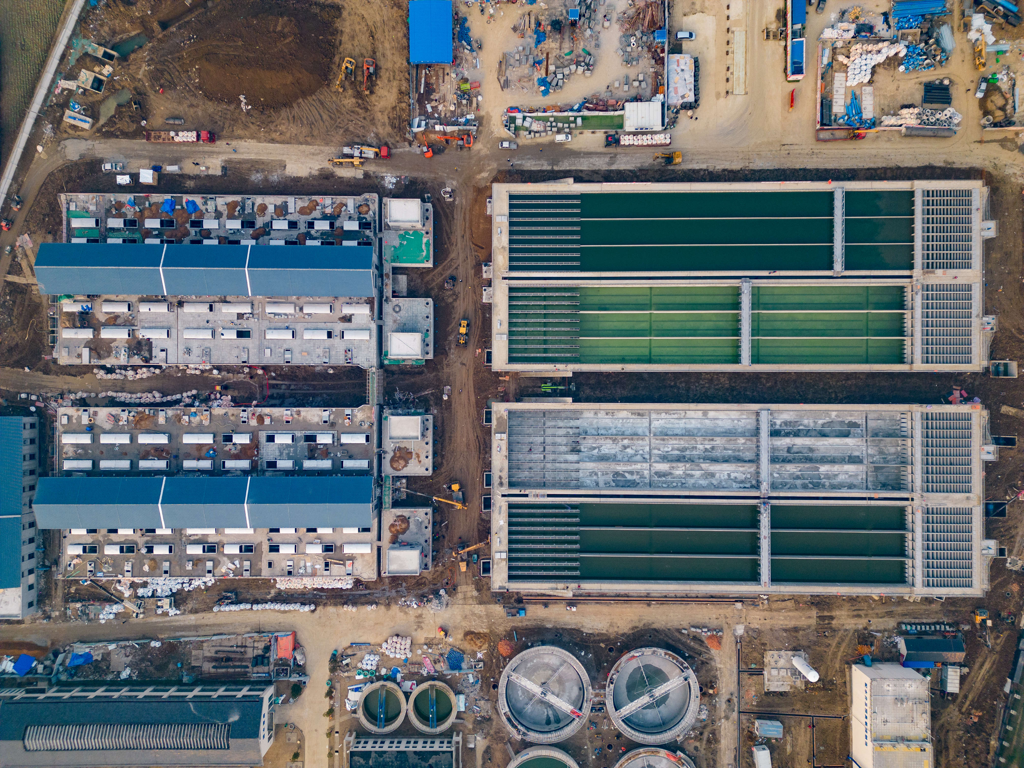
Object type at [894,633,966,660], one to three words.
shed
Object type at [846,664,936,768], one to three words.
building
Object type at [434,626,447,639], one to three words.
vehicle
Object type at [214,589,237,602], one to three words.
vehicle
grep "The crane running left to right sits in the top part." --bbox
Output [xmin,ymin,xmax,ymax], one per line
[320,154,361,168]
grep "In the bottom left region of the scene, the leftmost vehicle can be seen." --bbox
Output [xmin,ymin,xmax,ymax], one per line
[153,600,174,613]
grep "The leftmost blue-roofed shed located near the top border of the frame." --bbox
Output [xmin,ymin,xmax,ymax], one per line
[410,0,453,73]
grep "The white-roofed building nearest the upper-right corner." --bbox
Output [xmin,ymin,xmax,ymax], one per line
[622,102,661,136]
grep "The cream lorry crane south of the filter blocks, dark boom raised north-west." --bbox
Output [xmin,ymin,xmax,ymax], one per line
[70,582,149,621]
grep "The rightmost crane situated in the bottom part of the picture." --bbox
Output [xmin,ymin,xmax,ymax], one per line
[452,545,488,583]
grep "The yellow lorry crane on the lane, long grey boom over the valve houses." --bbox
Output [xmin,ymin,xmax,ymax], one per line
[375,478,469,513]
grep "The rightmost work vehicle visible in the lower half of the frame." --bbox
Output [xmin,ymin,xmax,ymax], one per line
[973,608,992,642]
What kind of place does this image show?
industrial area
